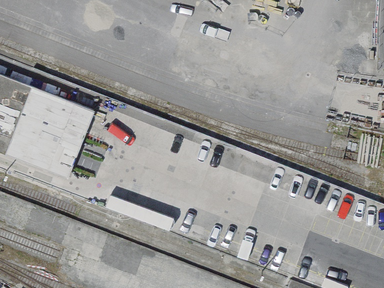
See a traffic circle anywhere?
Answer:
No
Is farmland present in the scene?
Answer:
No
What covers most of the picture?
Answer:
paved ground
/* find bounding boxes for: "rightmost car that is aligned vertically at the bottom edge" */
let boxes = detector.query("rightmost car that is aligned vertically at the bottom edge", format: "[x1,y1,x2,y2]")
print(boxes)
[300,256,312,278]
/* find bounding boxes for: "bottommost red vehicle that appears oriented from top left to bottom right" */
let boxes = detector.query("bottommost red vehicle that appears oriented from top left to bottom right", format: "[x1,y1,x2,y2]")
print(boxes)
[108,124,134,145]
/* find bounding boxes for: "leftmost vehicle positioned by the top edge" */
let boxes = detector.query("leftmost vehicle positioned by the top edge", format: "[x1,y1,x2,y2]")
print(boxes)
[170,2,196,16]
